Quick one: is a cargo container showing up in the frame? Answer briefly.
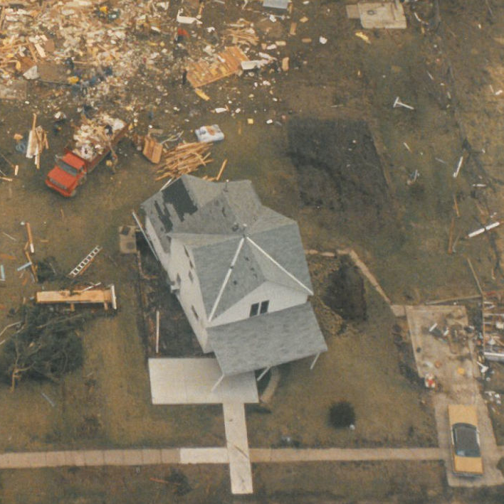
No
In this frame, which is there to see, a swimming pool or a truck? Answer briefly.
truck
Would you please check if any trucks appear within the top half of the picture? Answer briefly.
Yes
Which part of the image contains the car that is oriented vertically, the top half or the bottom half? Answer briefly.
bottom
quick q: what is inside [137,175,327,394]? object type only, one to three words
house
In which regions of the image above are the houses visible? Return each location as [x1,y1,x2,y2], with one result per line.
[479,292,504,361]
[137,175,327,394]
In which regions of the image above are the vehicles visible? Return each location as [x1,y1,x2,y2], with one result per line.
[46,111,139,203]
[446,404,482,483]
